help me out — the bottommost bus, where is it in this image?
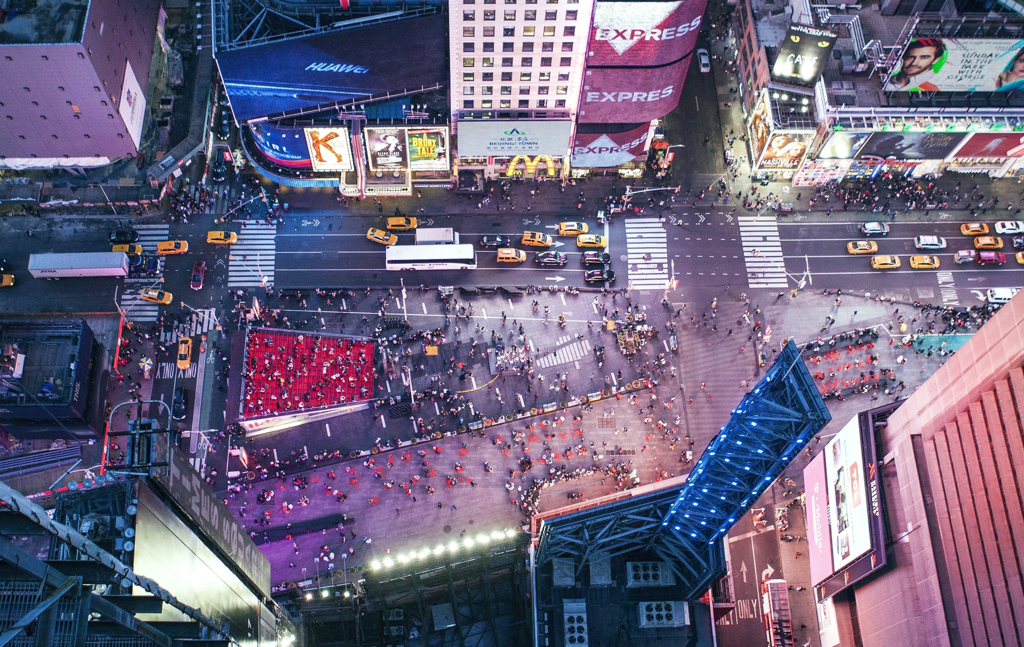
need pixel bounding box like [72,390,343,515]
[757,580,791,647]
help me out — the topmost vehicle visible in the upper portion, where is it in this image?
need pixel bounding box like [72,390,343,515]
[697,50,711,70]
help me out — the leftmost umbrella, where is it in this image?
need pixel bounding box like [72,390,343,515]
[135,354,157,373]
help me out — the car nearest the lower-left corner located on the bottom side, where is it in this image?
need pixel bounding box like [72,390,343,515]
[169,387,190,420]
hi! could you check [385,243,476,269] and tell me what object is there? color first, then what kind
white bus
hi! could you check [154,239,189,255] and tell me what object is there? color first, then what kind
orange car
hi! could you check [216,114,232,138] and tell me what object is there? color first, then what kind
black car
